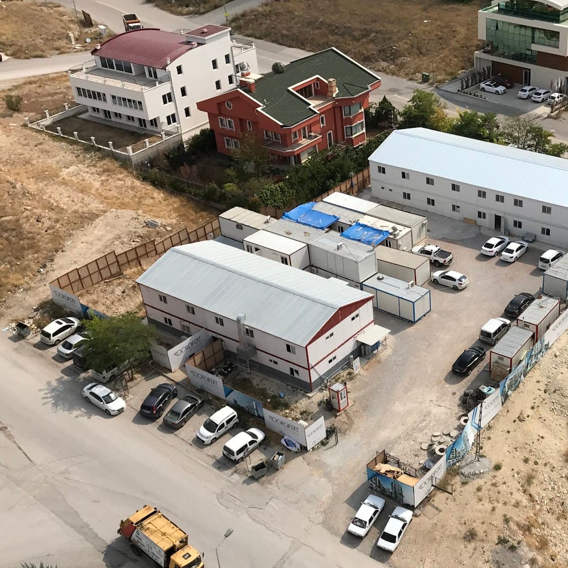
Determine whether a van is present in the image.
Yes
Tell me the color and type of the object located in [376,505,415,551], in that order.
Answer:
white car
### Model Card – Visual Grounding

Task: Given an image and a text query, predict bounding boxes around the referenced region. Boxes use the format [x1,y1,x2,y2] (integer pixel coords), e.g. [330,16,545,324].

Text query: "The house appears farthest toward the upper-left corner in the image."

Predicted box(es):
[68,13,263,155]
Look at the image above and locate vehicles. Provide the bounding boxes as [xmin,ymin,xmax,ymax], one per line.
[223,428,266,460]
[196,400,242,442]
[500,242,532,263]
[430,271,470,290]
[92,356,130,381]
[70,348,101,370]
[40,318,83,342]
[376,505,415,551]
[348,495,387,539]
[409,243,454,266]
[479,81,507,95]
[479,236,513,258]
[479,314,514,344]
[108,501,207,568]
[139,384,180,416]
[77,384,129,415]
[518,86,539,98]
[161,397,205,426]
[451,343,491,376]
[55,334,94,359]
[493,77,515,89]
[537,246,565,268]
[503,291,539,316]
[531,88,552,102]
